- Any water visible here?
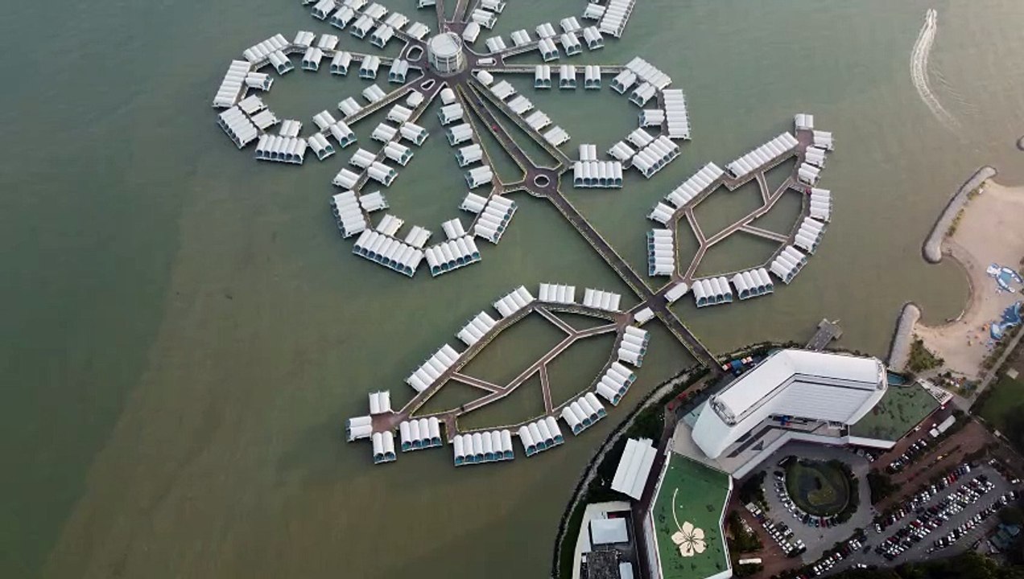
Yes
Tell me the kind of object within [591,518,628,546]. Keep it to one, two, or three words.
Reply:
shed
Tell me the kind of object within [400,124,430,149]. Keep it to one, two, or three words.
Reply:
house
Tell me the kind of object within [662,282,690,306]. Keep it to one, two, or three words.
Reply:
building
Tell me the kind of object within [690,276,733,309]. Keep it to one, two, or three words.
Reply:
house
